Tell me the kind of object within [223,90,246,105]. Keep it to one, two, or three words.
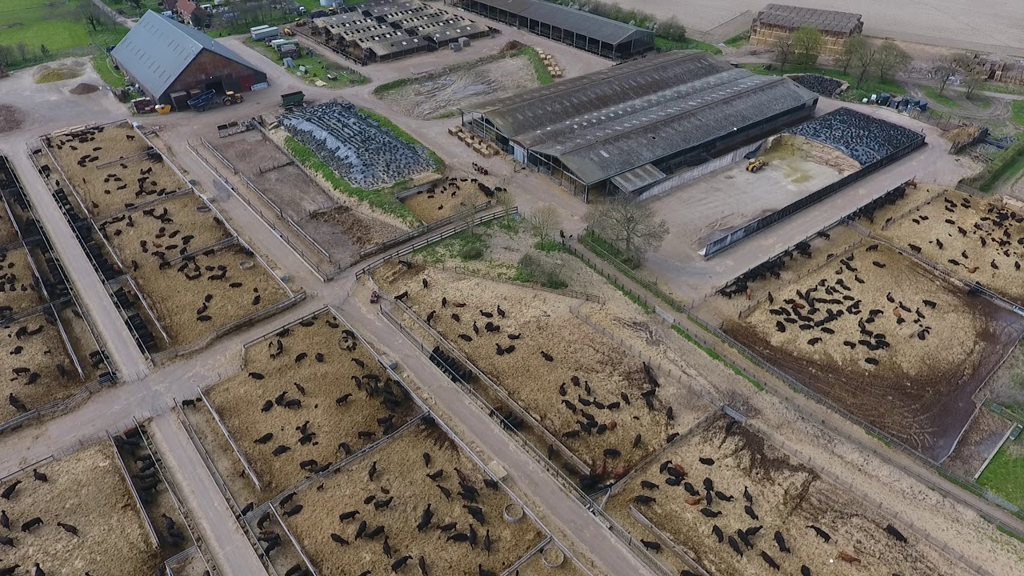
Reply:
work vehicle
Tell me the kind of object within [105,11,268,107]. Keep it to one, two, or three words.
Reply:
barn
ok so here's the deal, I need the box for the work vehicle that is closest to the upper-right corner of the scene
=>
[743,156,773,175]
